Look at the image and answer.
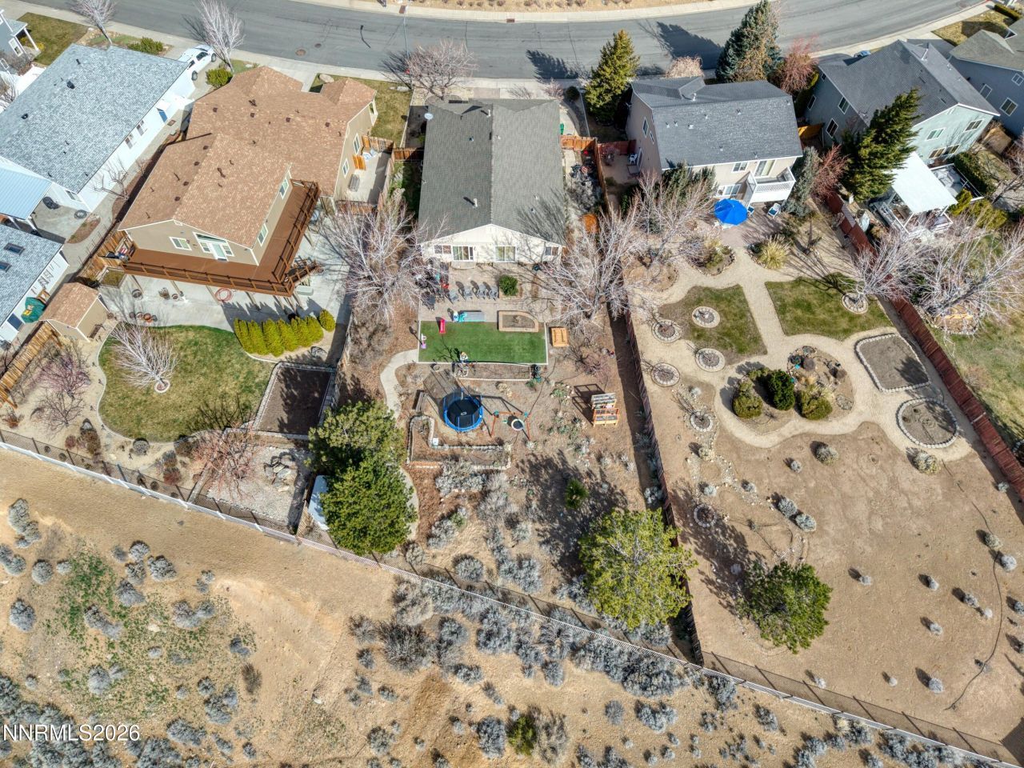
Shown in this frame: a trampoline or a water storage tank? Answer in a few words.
trampoline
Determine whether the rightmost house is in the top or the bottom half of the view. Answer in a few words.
top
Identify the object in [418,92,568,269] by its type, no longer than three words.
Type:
house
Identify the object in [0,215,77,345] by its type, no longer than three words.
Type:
house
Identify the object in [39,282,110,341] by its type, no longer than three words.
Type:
shed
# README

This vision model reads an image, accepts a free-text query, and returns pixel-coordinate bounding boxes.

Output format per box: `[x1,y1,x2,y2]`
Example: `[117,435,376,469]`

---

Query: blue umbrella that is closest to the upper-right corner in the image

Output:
[712,200,745,230]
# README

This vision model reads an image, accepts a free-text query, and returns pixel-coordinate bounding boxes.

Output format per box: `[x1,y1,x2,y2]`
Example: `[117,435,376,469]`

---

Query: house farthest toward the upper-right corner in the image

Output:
[947,3,1024,123]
